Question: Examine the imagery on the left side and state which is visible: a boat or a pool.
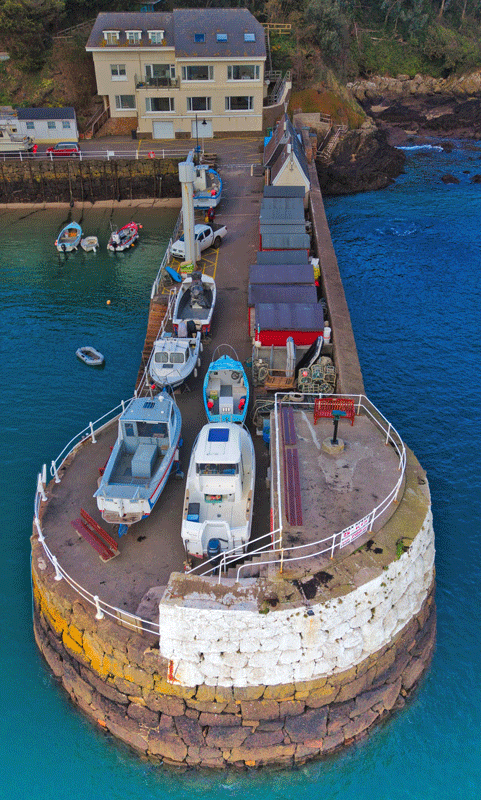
boat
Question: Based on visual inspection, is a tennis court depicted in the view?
No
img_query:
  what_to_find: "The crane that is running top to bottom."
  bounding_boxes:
[178,136,201,266]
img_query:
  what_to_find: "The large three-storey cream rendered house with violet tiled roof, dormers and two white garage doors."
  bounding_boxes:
[86,6,272,138]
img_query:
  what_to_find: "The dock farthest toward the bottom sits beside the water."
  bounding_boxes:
[34,158,438,766]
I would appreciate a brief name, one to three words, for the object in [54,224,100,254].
boat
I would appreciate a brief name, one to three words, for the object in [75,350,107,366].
boat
